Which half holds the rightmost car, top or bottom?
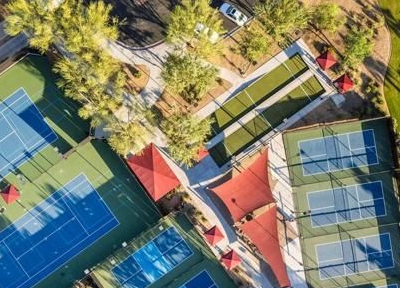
top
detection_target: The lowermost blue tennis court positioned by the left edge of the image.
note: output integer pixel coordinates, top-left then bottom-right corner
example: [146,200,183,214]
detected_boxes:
[0,140,155,288]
